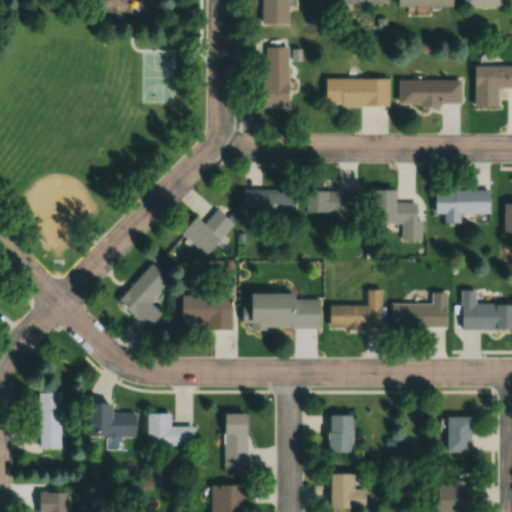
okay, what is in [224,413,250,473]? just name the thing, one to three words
house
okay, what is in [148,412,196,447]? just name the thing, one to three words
house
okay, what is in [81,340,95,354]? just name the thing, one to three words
vehicle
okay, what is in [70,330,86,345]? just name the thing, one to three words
vehicle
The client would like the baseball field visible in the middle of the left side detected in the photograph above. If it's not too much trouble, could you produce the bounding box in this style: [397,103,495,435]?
[25,172,100,262]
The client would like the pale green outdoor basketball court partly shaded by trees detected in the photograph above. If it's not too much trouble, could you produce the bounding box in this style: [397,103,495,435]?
[144,52,177,104]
